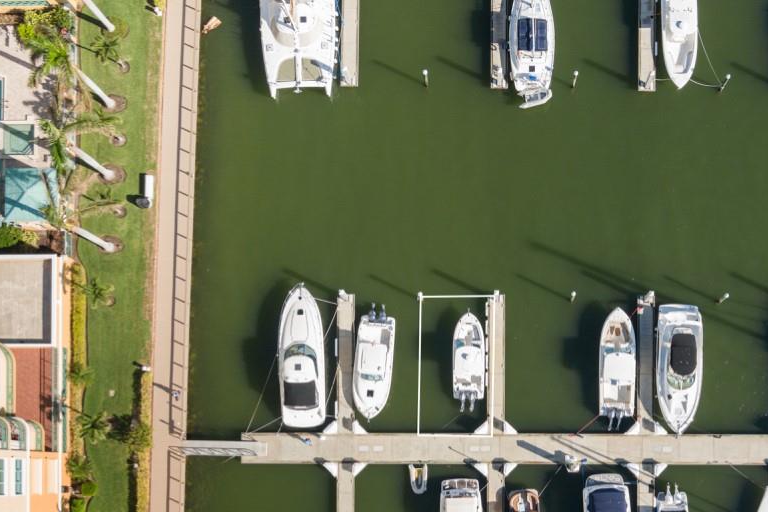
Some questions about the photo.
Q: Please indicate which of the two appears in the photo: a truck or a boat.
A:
boat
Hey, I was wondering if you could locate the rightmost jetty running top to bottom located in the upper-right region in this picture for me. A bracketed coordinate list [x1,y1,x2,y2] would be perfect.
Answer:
[638,0,658,93]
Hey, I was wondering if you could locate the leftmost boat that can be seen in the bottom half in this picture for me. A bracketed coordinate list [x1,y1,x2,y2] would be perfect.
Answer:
[280,280,331,429]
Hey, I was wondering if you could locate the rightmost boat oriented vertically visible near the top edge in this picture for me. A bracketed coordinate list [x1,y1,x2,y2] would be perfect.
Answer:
[660,0,698,94]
